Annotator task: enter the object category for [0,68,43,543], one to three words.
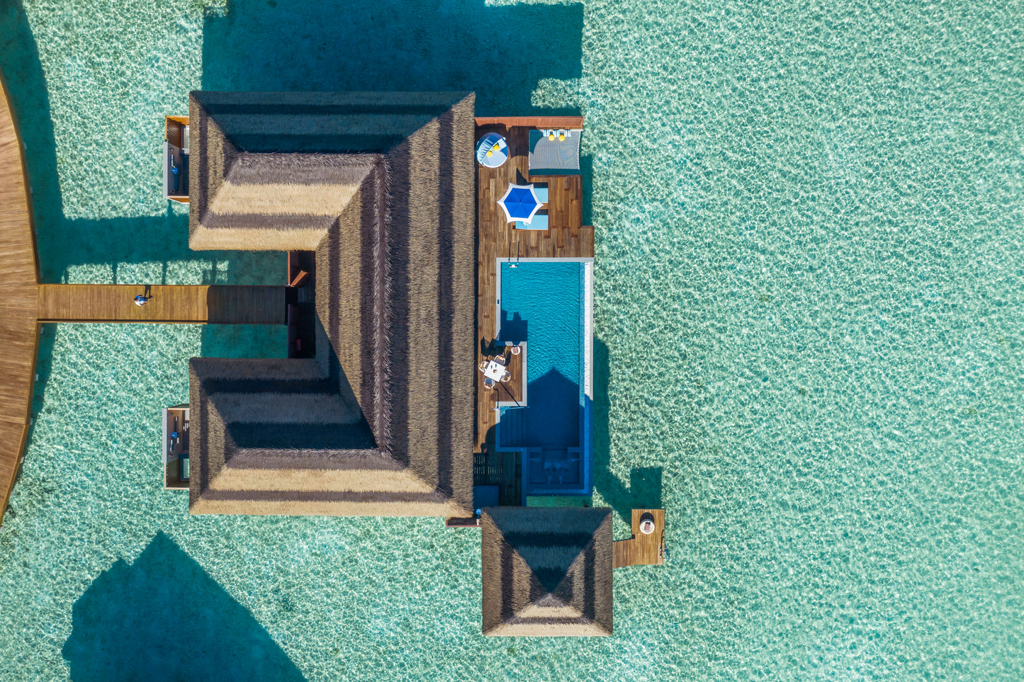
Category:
pier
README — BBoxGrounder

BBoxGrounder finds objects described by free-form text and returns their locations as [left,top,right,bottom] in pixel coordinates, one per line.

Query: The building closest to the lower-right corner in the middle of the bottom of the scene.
[479,504,616,639]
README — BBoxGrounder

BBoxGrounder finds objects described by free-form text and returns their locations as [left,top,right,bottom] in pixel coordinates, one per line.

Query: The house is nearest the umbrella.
[187,89,479,520]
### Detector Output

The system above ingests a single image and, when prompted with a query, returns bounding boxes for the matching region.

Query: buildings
[187,89,479,520]
[479,504,616,639]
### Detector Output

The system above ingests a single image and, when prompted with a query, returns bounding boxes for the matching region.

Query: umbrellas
[498,184,544,225]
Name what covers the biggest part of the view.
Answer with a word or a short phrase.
water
